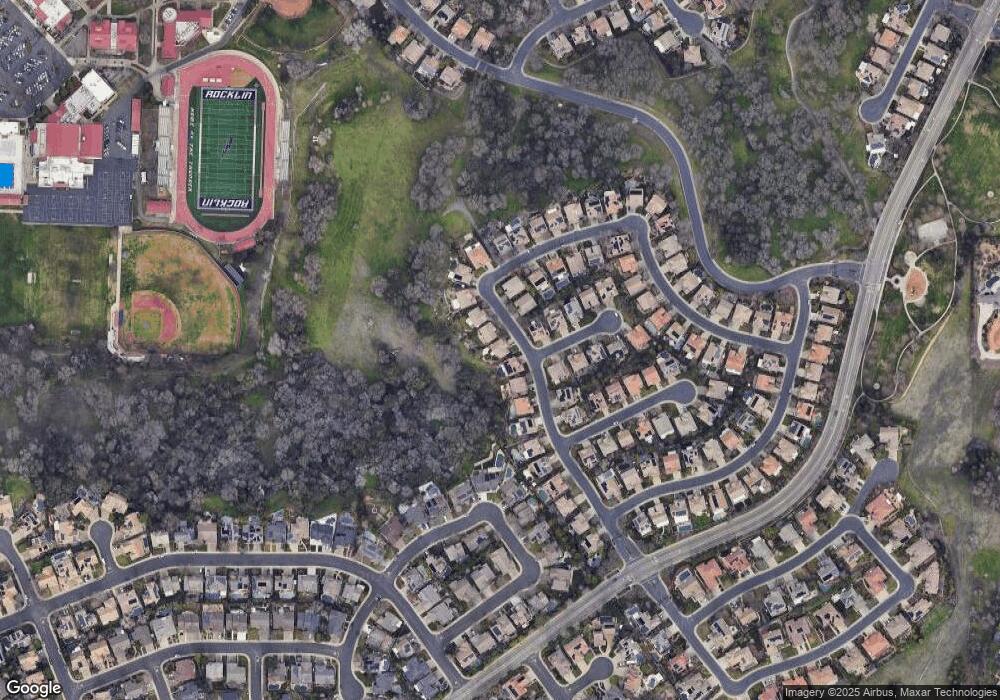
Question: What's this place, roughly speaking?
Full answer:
What you see here is a residential area.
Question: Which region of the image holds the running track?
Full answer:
The running track sits in the top left section of the image.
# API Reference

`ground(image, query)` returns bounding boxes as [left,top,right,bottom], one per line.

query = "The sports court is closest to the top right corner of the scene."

[918,218,949,244]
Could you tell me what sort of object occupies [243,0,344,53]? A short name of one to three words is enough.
baseball field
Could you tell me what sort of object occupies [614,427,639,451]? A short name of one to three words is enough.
house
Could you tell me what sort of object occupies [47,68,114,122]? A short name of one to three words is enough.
building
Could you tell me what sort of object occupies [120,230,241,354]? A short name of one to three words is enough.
baseball field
